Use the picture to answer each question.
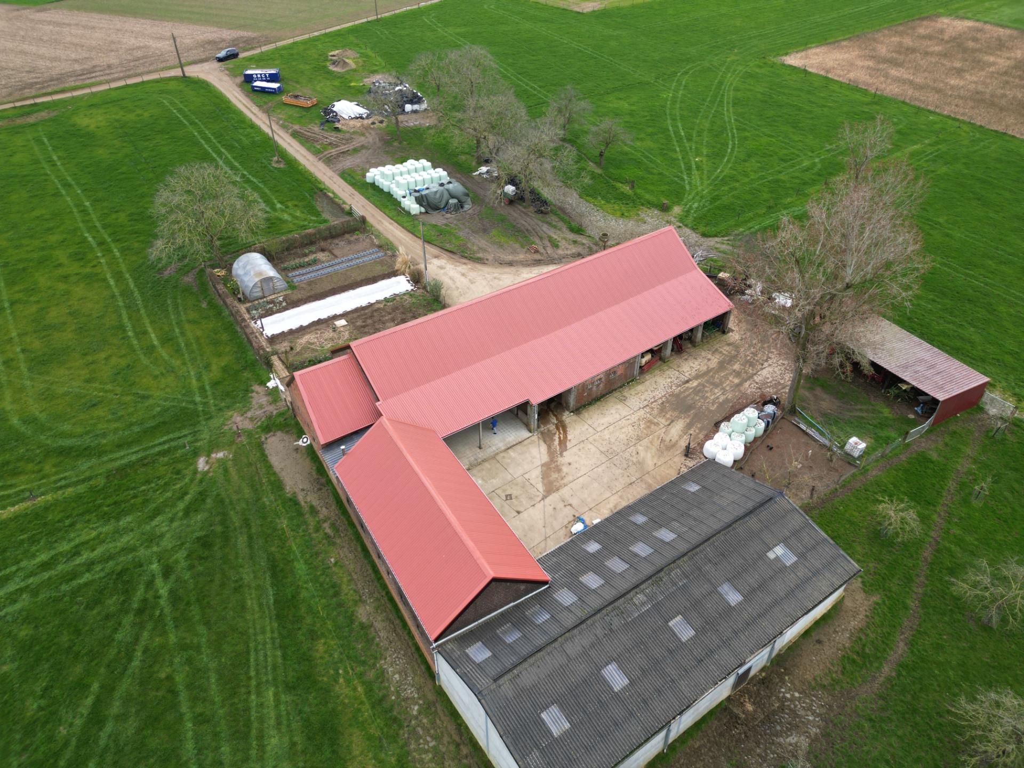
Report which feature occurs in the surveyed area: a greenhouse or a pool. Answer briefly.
greenhouse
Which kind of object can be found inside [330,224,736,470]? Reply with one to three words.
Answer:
barn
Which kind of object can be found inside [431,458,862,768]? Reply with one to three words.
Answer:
barn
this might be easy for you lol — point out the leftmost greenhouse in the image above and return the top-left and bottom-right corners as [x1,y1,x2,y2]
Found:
[230,248,288,299]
